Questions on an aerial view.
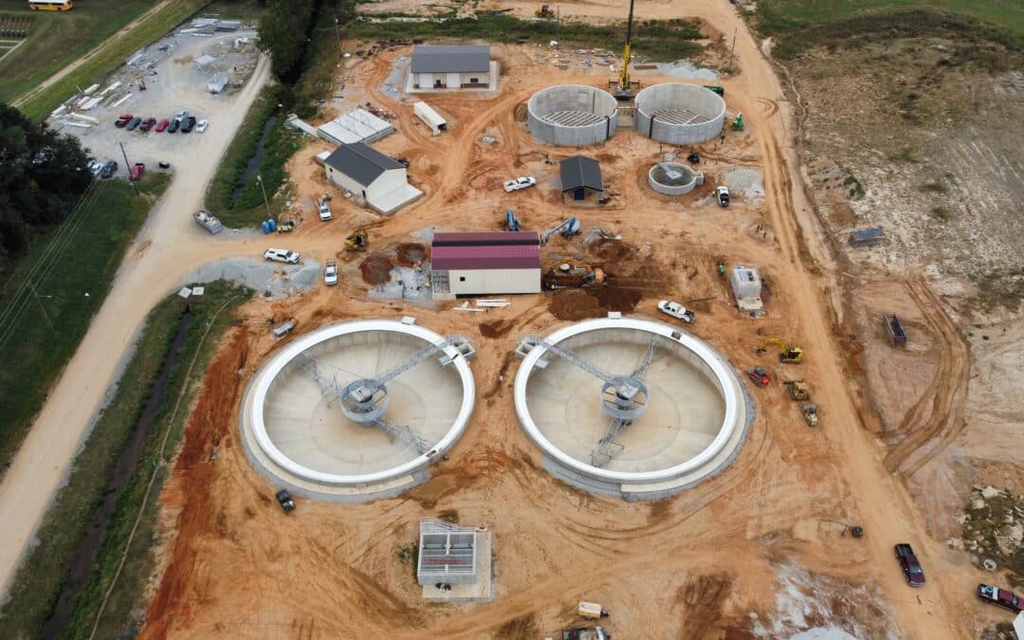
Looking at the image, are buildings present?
Yes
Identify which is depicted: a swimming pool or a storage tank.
storage tank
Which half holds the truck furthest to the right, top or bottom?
bottom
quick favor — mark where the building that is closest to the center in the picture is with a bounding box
[429,231,545,300]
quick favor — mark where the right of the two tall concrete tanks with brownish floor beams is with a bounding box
[633,83,726,145]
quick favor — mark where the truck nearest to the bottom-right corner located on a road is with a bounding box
[971,578,1024,614]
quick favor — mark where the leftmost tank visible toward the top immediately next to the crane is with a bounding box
[528,84,617,146]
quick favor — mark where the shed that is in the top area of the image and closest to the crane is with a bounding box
[560,153,604,209]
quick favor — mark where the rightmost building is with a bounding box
[731,262,761,300]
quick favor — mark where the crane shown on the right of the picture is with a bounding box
[604,0,639,107]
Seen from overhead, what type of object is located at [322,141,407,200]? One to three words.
building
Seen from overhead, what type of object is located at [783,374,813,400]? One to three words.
work vehicle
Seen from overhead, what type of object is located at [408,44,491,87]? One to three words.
building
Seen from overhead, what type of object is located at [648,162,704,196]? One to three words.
storage tank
